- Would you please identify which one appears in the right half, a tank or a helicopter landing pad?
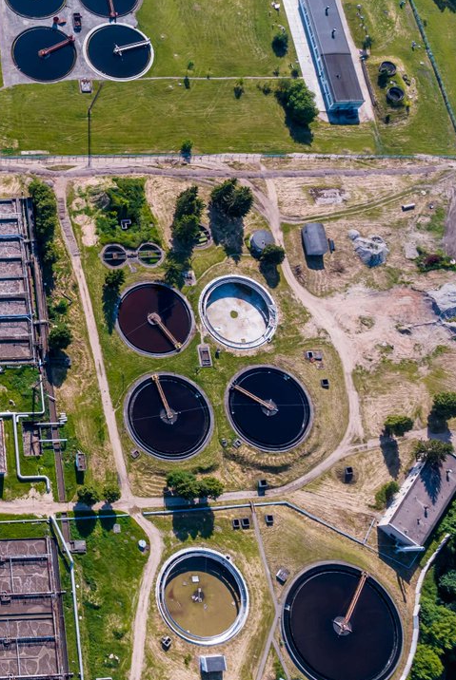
tank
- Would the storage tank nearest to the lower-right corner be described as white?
No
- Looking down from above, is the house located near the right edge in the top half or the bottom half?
bottom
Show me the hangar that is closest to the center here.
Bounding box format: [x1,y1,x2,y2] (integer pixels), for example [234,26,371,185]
[299,222,328,260]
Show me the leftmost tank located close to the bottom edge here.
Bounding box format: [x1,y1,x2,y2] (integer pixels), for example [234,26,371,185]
[157,550,251,647]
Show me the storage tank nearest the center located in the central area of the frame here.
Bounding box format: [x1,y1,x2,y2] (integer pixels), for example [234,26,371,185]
[200,275,280,350]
